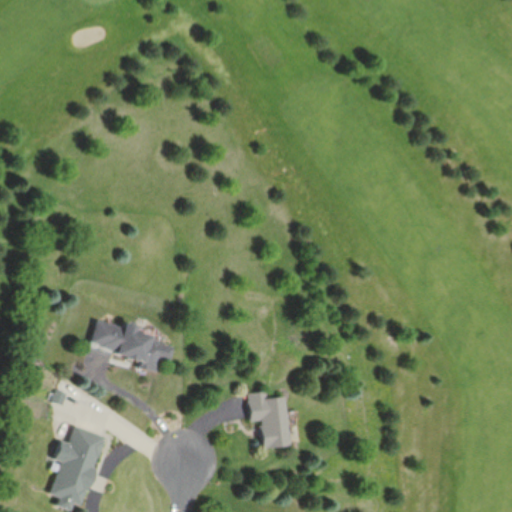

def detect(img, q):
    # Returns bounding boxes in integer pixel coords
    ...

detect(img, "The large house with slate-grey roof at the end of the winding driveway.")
[92,318,175,372]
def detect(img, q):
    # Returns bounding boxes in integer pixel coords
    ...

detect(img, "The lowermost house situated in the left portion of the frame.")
[50,428,104,510]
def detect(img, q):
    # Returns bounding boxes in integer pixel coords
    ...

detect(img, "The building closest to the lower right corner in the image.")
[247,393,292,450]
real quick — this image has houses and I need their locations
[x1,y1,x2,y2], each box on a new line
[92,318,175,372]
[50,428,104,510]
[247,393,292,450]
